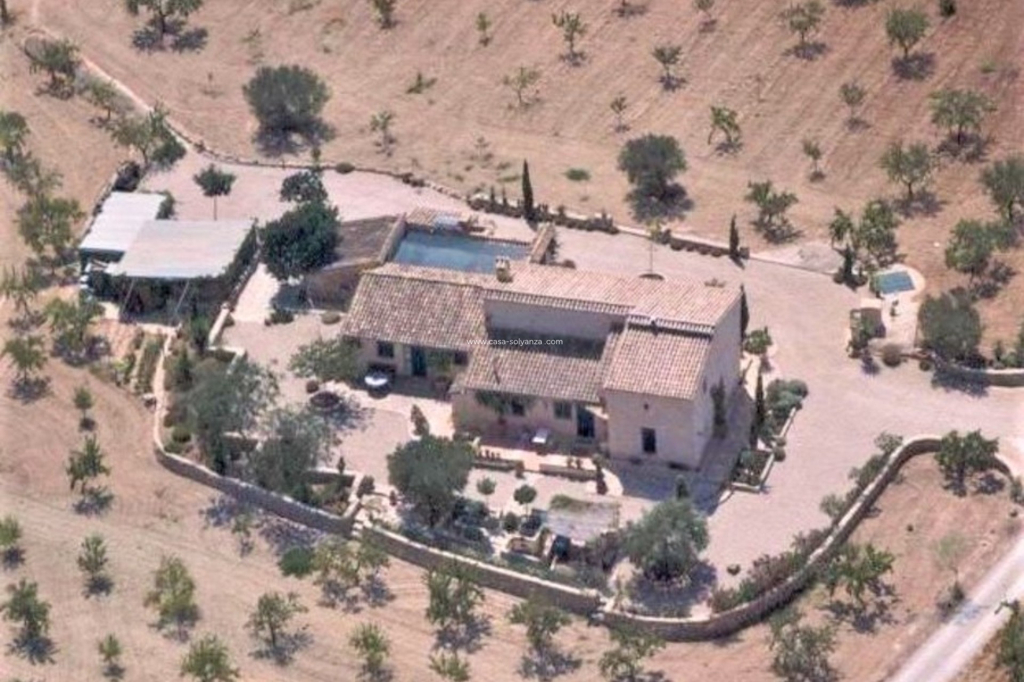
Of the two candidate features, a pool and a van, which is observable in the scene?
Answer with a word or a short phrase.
pool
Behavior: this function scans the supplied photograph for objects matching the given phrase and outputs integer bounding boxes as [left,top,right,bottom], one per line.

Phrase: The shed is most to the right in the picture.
[853,304,885,341]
